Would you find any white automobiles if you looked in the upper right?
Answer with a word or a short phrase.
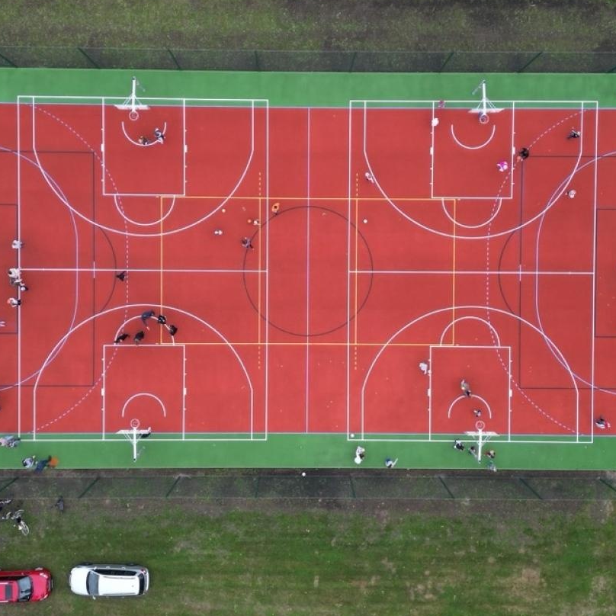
No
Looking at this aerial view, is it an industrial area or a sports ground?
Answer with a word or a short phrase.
sports ground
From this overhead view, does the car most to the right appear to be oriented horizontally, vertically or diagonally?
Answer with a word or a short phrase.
horizontally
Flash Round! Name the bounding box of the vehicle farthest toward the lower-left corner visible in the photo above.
[0,568,54,605]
